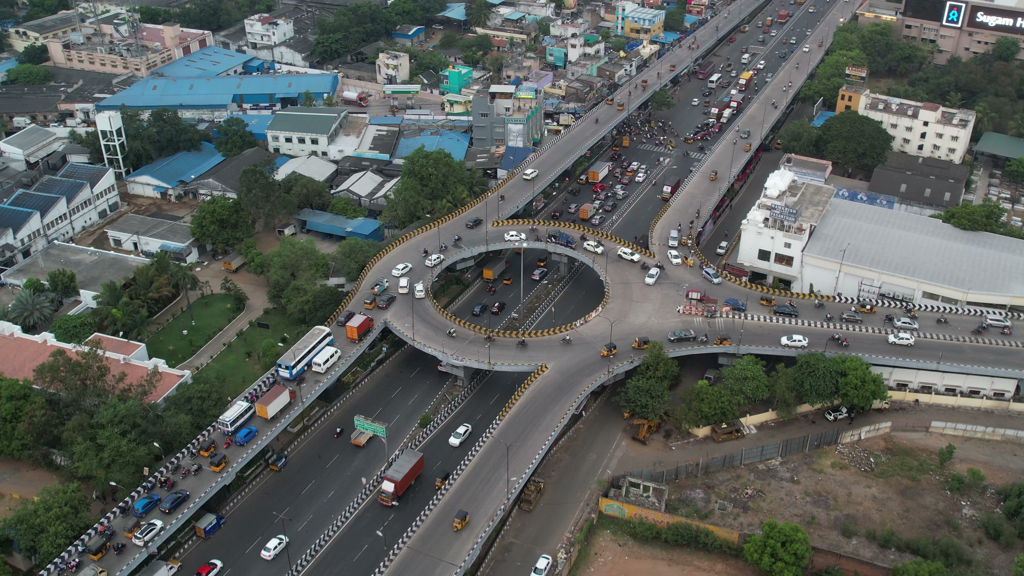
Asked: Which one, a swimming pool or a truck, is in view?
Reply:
truck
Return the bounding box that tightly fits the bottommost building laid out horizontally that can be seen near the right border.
[883,370,1021,412]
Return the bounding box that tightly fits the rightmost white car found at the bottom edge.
[530,550,554,576]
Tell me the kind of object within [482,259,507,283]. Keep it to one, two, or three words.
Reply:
truck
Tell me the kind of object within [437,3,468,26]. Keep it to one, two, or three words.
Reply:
shed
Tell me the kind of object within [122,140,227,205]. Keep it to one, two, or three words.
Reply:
shed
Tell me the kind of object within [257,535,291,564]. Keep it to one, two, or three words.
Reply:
car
